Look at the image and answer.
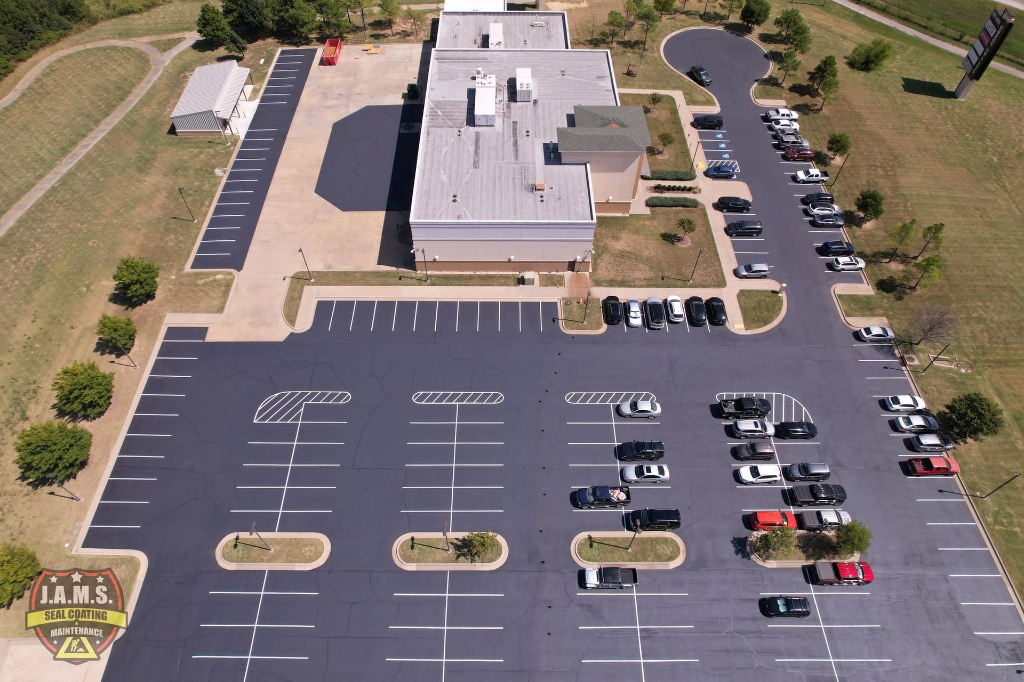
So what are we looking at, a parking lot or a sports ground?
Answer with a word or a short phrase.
parking lot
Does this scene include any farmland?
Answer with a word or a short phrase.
No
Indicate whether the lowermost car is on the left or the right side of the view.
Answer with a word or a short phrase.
right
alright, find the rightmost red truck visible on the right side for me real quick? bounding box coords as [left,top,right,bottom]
[904,456,958,477]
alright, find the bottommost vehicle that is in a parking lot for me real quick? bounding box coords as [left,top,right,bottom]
[759,594,811,619]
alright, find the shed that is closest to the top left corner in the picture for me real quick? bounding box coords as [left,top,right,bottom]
[172,58,254,135]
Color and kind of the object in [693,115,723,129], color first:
black car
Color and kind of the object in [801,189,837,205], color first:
black car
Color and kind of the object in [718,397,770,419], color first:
black truck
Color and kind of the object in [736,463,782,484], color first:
white car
